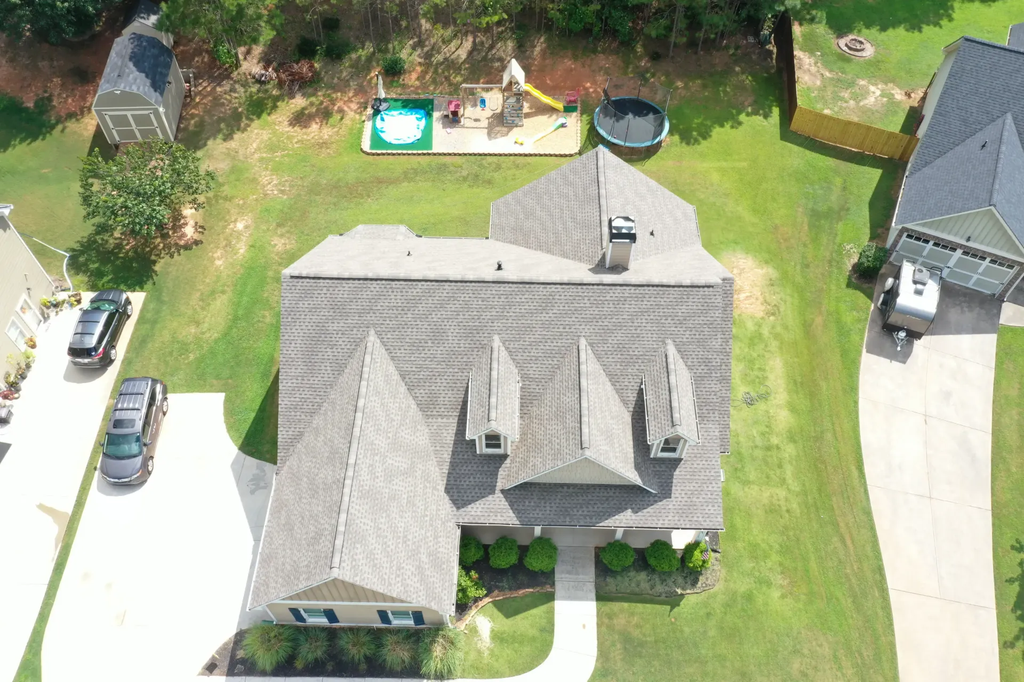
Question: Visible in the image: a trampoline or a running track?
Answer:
trampoline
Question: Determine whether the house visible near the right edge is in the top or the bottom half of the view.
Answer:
top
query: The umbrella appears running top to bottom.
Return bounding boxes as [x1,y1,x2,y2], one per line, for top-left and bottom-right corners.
[370,67,391,109]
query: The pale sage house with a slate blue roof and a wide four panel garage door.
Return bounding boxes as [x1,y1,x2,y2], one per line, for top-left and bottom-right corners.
[884,31,1024,301]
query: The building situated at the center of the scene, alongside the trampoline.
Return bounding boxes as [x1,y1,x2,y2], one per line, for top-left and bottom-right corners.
[245,146,736,630]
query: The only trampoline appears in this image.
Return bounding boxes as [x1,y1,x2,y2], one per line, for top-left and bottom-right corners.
[594,76,669,156]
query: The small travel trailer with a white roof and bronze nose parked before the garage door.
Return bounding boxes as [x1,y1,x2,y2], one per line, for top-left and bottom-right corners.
[875,257,943,352]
